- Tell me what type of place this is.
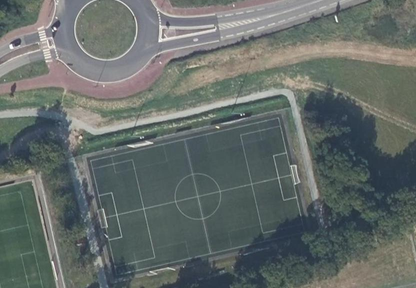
sports ground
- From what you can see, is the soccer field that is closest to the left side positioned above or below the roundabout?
below it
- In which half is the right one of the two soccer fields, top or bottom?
bottom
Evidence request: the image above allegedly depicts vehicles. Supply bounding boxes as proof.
[8,40,20,48]
[52,20,60,30]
